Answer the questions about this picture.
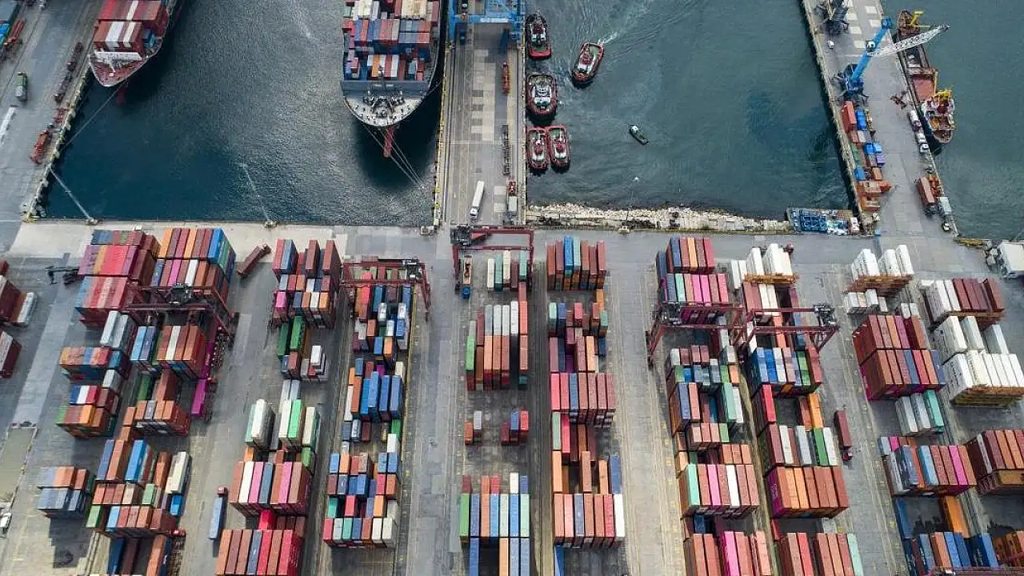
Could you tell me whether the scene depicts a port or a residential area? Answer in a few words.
port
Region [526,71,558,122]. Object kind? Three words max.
boat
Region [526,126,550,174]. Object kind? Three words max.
boat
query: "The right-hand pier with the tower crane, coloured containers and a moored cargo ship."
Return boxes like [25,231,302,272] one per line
[800,0,956,226]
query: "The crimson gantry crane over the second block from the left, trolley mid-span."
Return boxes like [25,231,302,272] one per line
[118,281,236,349]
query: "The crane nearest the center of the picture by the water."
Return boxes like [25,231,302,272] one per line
[449,228,536,294]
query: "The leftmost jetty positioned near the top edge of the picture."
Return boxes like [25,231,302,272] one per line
[0,0,88,222]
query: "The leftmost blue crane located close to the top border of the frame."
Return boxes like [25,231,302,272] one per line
[445,0,520,47]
